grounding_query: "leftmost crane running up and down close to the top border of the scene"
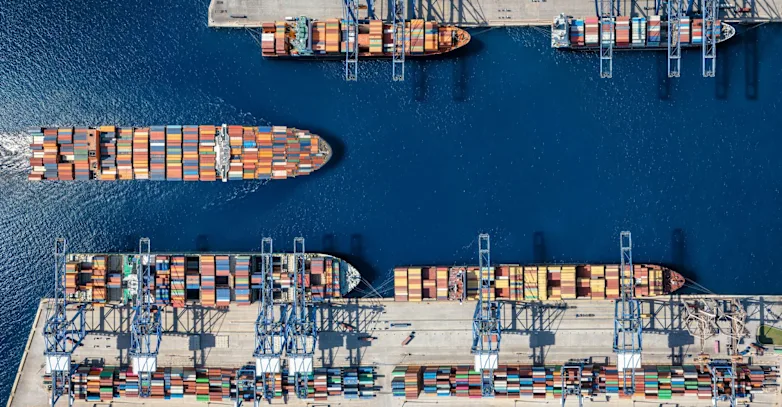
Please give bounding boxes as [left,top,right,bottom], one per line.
[338,0,370,79]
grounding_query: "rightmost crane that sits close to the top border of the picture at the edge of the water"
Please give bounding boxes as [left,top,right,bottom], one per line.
[675,0,723,79]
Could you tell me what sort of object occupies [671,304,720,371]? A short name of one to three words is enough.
container crane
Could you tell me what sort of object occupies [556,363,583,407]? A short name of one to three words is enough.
crane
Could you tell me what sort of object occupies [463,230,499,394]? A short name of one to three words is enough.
container crane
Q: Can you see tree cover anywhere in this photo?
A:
No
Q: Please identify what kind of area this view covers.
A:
port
